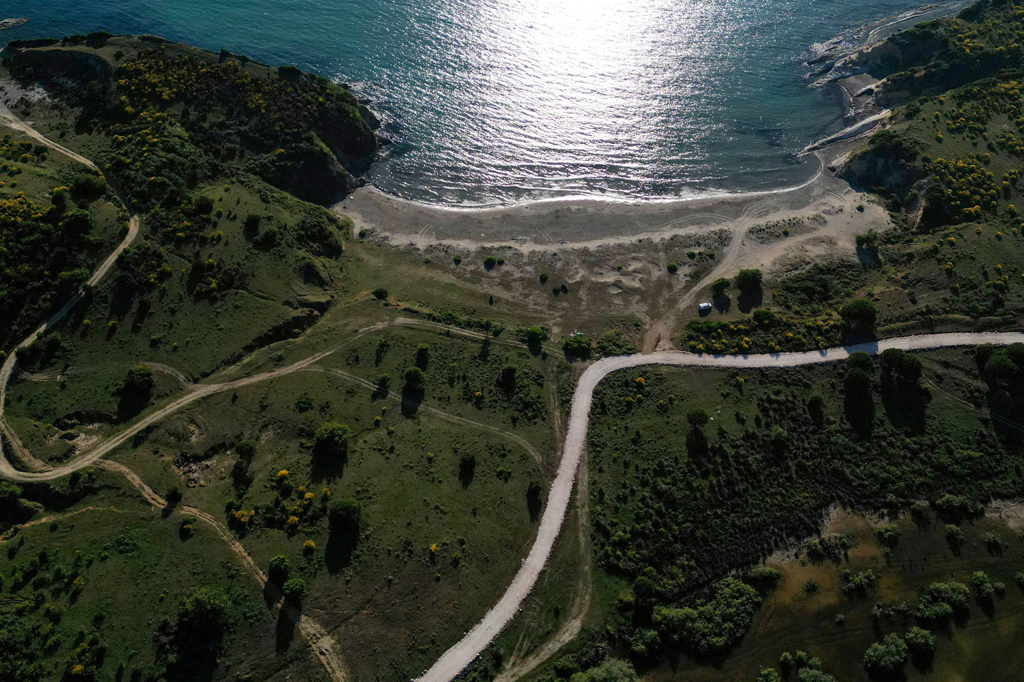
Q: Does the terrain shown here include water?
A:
Yes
